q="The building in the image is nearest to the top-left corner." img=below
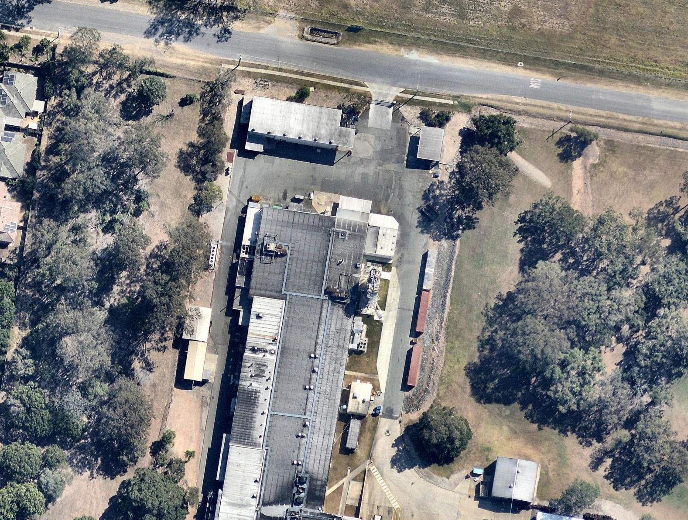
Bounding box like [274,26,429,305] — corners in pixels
[0,70,45,127]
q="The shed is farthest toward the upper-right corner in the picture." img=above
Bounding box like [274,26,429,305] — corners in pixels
[418,126,444,163]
